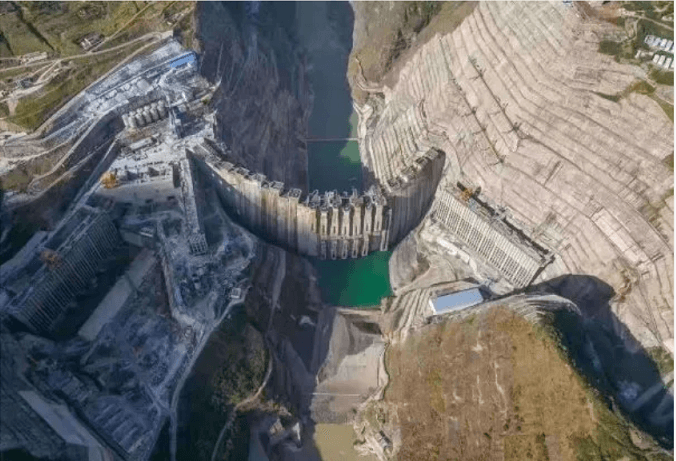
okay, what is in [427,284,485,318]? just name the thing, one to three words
building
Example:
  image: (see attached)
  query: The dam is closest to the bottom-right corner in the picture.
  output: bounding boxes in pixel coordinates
[321,305,386,324]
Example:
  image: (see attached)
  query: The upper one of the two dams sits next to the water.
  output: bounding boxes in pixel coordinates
[199,145,445,264]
